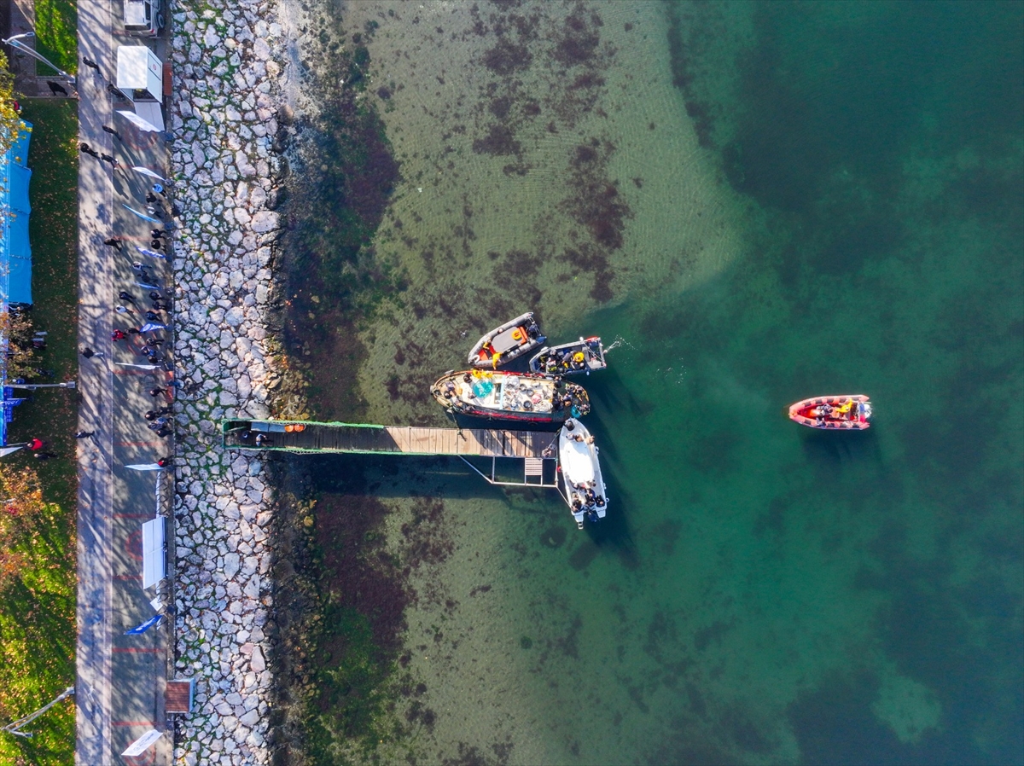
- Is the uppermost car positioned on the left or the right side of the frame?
left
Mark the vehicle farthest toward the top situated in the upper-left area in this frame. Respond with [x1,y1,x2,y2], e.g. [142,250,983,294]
[127,0,164,39]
